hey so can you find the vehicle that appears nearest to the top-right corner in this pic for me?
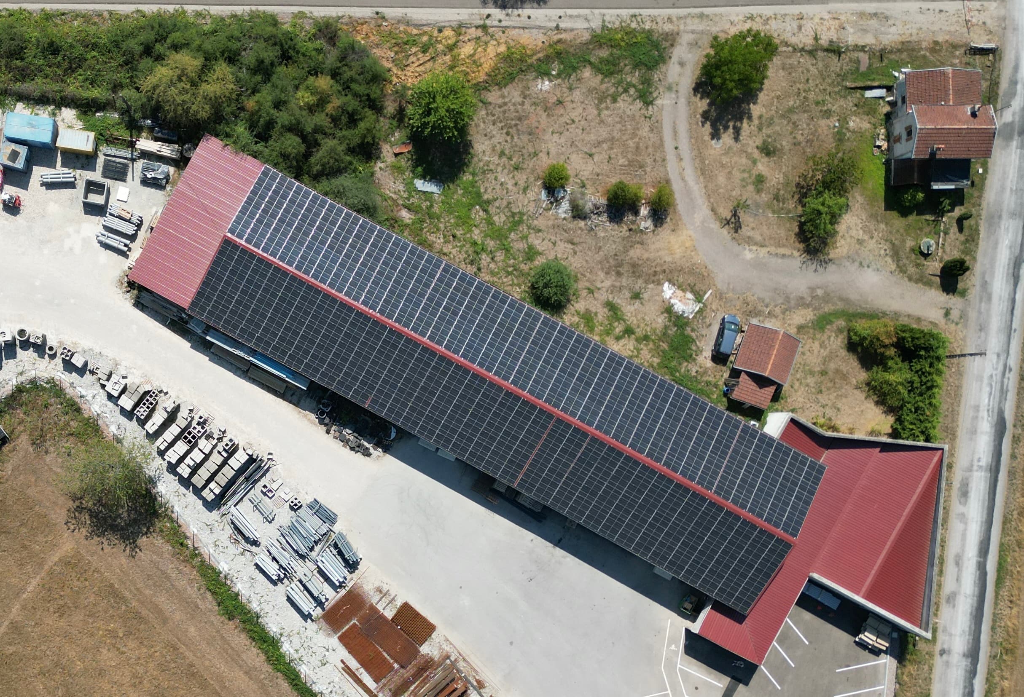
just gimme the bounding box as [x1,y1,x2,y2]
[711,315,741,359]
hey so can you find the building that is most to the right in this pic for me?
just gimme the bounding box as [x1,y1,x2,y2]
[881,67,998,192]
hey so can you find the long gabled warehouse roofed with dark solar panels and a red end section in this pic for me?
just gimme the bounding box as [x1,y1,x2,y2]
[128,134,829,616]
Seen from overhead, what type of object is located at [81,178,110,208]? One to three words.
storage tank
